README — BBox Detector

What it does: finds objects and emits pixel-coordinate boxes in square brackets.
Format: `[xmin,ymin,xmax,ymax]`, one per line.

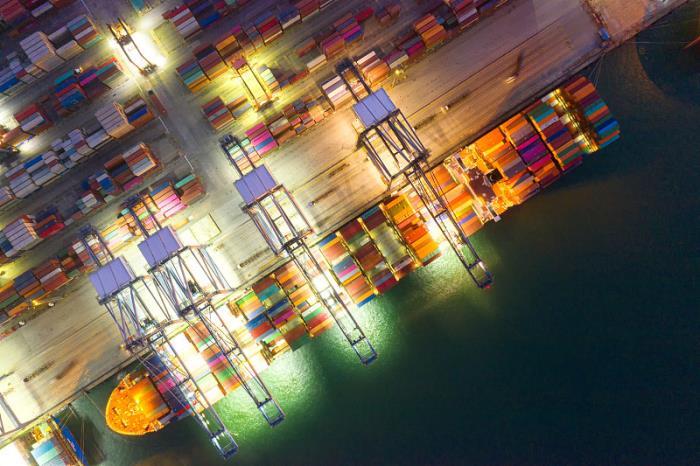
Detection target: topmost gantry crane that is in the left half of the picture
[105,15,157,73]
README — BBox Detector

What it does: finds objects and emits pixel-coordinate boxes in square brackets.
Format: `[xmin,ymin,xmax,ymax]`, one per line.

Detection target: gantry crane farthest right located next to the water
[336,61,492,290]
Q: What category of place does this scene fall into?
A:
port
